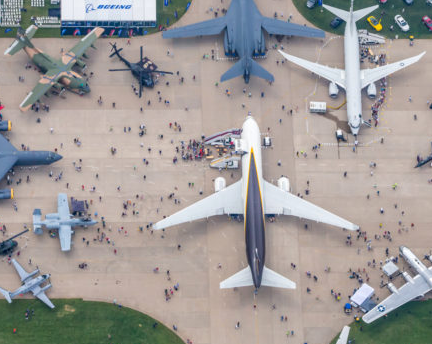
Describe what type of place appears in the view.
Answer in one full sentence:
The picture captures an airport.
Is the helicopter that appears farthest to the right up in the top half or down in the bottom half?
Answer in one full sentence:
The helicopter that appears farthest to the right is in the top half of the image.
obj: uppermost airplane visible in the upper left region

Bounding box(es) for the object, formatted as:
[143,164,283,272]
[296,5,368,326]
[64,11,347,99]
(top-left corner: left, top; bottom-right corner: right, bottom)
[8,20,109,107]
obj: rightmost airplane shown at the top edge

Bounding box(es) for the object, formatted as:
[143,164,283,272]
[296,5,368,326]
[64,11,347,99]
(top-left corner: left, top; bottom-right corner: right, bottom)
[278,0,426,135]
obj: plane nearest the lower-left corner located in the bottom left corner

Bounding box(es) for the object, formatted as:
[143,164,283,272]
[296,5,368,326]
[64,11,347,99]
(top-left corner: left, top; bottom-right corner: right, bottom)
[0,261,53,308]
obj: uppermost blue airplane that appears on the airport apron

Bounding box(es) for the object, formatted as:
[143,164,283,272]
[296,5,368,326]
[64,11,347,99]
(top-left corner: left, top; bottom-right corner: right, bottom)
[163,0,325,85]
